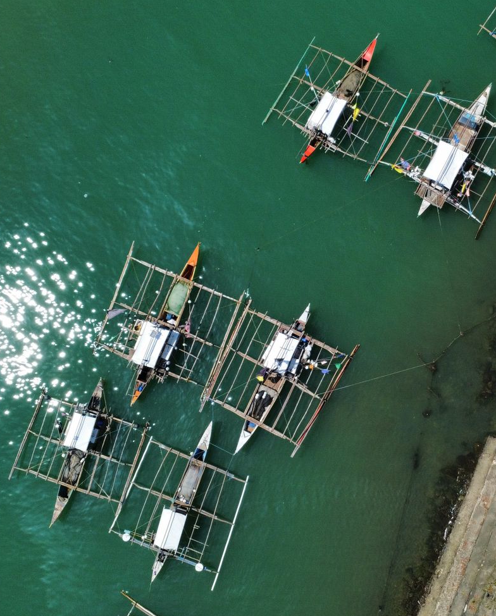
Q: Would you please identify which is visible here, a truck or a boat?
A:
boat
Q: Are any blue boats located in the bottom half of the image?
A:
No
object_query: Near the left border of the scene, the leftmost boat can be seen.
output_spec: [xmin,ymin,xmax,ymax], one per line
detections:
[7,378,149,528]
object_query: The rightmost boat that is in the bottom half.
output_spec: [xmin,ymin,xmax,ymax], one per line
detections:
[199,300,360,457]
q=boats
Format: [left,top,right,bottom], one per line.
[108,421,249,592]
[120,592,154,616]
[263,36,412,180]
[93,241,244,406]
[7,378,149,528]
[199,300,360,457]
[369,79,496,238]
